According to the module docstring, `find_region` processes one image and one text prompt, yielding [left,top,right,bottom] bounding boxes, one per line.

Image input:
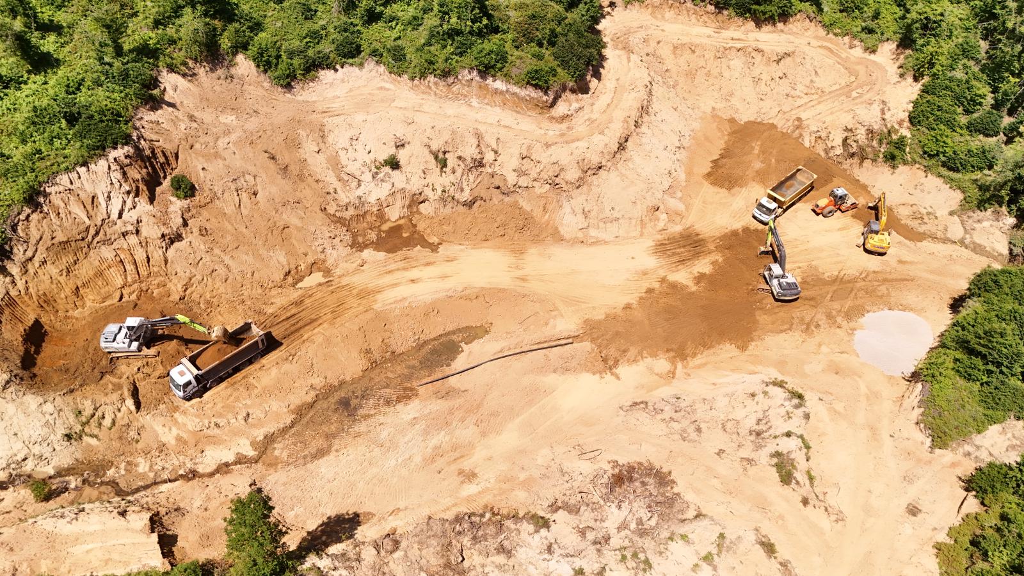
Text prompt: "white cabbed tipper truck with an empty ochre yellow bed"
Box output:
[751,170,817,227]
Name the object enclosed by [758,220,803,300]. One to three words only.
work vehicle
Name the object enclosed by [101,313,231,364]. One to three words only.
work vehicle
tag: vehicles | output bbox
[751,170,817,227]
[758,220,803,300]
[101,313,231,364]
[163,317,273,408]
[852,192,889,258]
[813,189,859,223]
